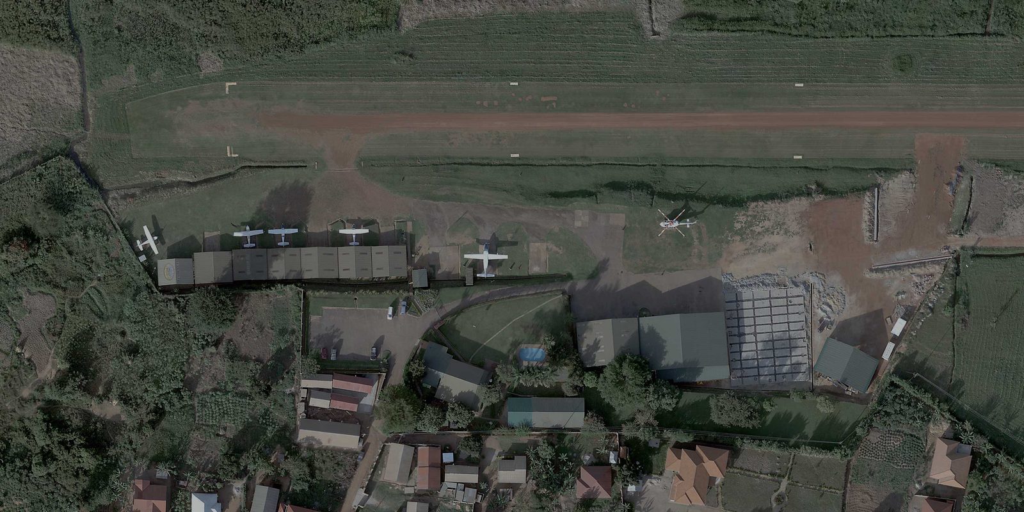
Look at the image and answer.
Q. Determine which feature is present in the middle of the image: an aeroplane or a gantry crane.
aeroplane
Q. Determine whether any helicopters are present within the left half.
No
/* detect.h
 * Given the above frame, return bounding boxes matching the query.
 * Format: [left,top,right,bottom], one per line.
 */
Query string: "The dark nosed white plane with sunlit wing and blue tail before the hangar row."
[339,224,369,245]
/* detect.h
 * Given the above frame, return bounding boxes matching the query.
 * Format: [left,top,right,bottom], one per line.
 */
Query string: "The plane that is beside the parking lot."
[464,243,508,279]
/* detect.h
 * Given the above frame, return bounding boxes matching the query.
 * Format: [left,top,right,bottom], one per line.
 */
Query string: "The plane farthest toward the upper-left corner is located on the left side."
[135,226,158,254]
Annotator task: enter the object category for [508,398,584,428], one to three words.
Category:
house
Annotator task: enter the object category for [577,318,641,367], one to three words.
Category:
hangar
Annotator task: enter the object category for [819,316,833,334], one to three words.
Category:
vehicle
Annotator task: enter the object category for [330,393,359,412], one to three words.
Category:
shed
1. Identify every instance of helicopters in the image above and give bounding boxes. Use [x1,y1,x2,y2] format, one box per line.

[655,209,696,238]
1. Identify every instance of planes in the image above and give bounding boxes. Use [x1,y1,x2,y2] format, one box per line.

[464,243,508,279]
[339,224,369,245]
[268,223,298,246]
[233,225,263,247]
[135,226,158,254]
